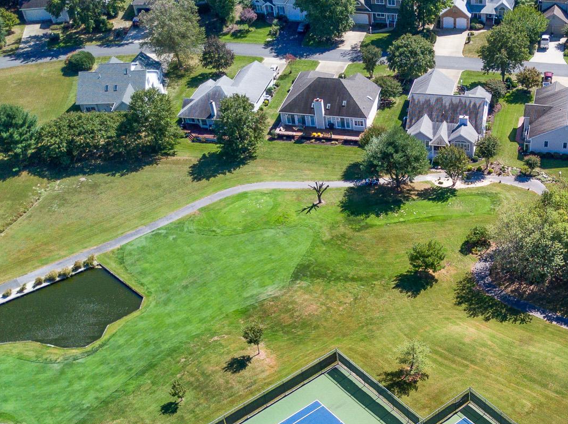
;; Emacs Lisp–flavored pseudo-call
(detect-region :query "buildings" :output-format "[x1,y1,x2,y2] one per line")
[438,0,514,30]
[19,0,66,24]
[344,0,403,28]
[402,65,493,160]
[252,0,300,20]
[513,76,568,157]
[175,56,280,143]
[77,43,180,128]
[537,0,568,36]
[274,69,380,143]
